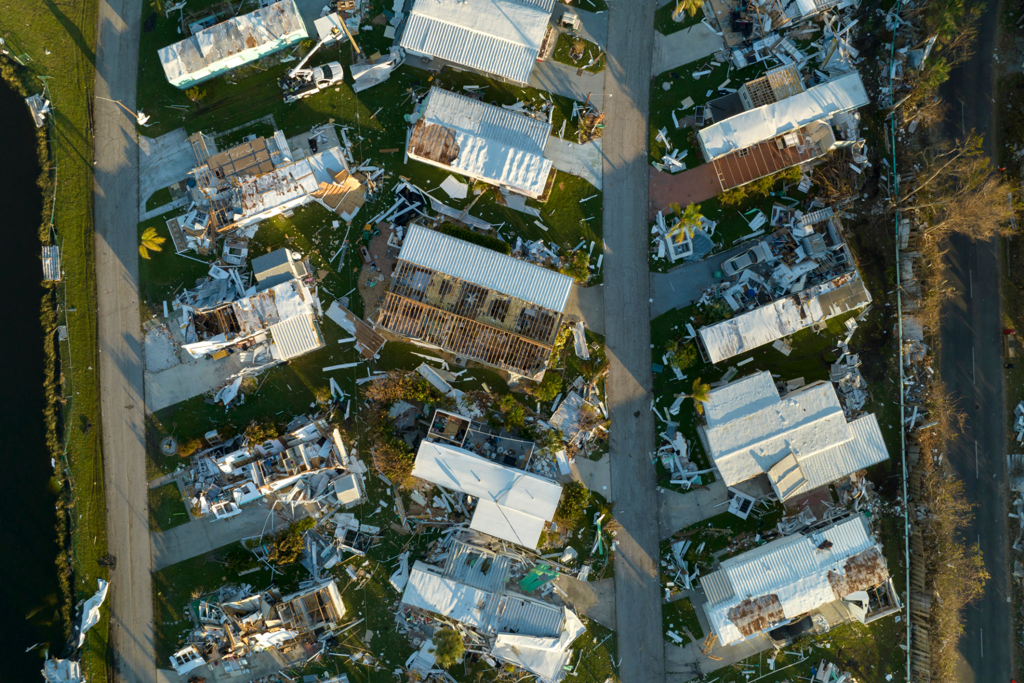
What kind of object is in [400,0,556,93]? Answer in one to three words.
house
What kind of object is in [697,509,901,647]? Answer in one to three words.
house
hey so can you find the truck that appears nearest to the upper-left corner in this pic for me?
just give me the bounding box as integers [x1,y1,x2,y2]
[276,27,344,101]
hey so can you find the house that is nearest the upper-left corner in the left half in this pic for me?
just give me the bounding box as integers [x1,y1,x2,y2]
[157,0,309,89]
